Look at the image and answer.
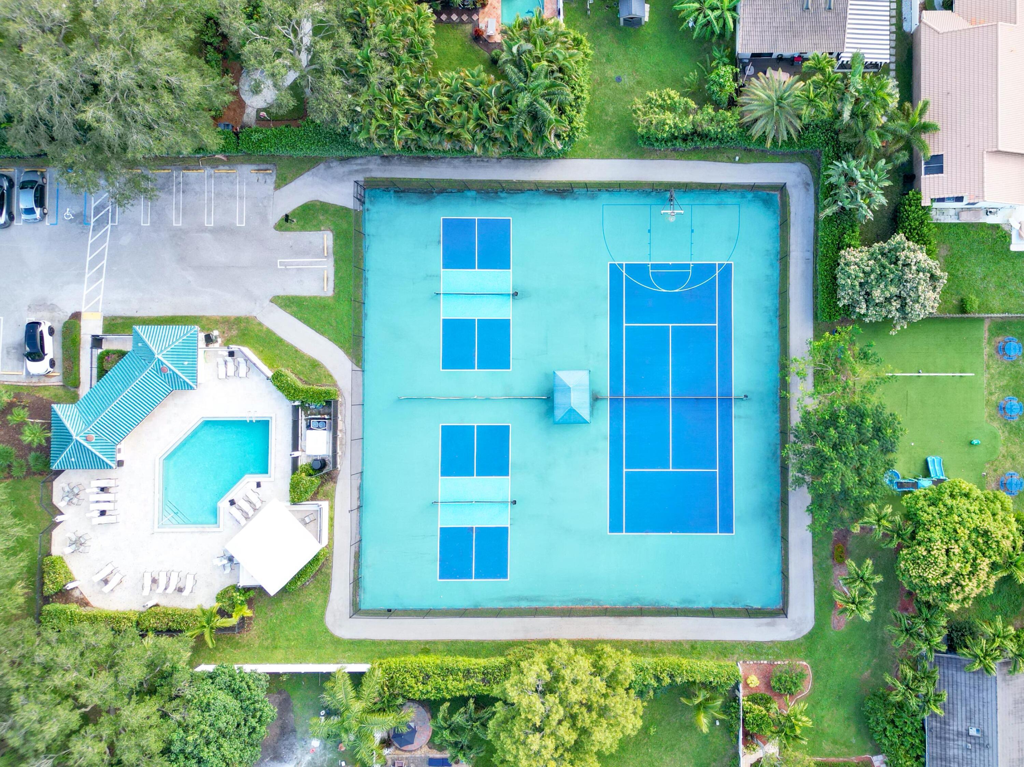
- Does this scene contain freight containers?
No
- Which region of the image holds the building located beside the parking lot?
left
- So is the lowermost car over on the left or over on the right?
left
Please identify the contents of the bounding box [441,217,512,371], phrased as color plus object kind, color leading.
blue sports court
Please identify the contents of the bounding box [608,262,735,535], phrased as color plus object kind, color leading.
blue tennis court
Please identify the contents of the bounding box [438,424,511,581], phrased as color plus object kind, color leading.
blue sports court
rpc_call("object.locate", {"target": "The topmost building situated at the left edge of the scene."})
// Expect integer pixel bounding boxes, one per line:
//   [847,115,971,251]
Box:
[50,325,209,470]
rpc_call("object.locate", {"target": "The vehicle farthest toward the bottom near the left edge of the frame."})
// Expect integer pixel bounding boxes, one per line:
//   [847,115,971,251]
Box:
[22,321,54,374]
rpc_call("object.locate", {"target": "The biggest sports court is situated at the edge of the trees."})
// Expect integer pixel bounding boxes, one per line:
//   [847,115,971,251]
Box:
[361,189,782,609]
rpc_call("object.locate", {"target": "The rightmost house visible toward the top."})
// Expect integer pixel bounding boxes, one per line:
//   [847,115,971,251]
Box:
[913,0,1024,208]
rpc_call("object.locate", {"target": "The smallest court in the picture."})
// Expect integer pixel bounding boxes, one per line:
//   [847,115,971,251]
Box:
[603,204,739,291]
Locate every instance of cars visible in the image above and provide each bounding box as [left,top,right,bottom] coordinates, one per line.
[14,168,45,221]
[22,321,54,374]
[0,171,13,226]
